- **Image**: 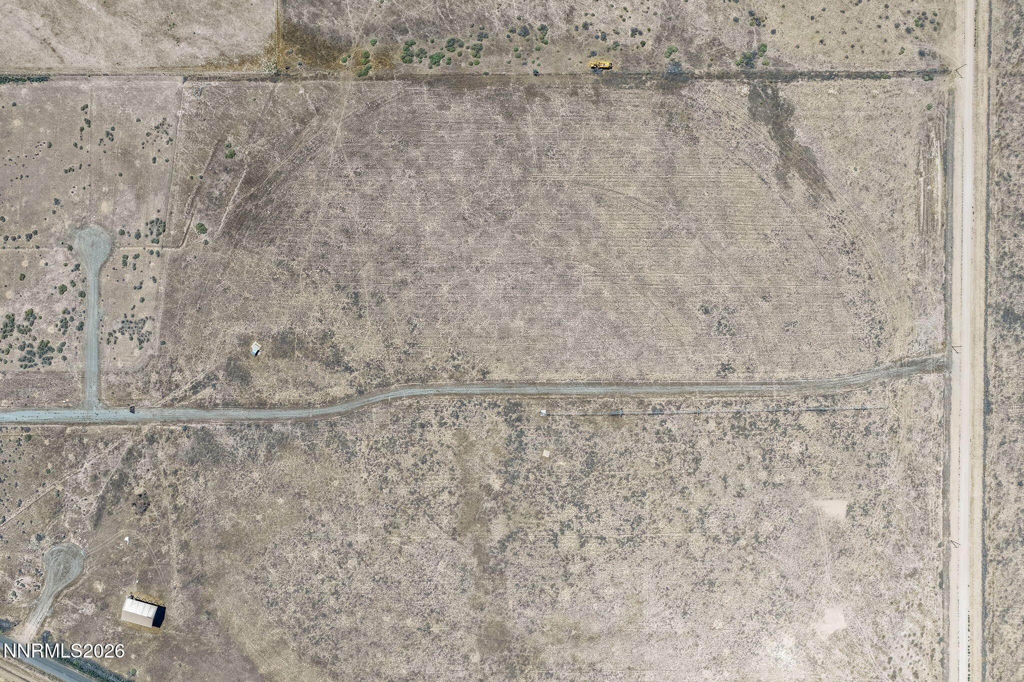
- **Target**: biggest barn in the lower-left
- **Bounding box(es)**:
[121,595,162,628]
